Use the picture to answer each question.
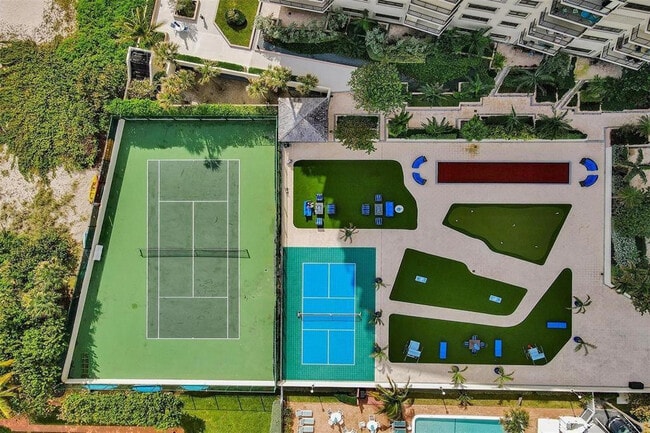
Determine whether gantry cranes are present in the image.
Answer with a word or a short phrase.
No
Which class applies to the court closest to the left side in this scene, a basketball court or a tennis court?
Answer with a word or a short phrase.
tennis court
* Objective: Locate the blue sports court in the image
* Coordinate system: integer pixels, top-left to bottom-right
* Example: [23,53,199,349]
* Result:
[284,247,375,381]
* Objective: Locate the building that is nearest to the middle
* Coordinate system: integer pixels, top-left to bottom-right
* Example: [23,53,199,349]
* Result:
[278,98,329,142]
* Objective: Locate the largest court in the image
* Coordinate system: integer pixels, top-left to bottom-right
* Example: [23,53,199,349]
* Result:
[72,120,276,378]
